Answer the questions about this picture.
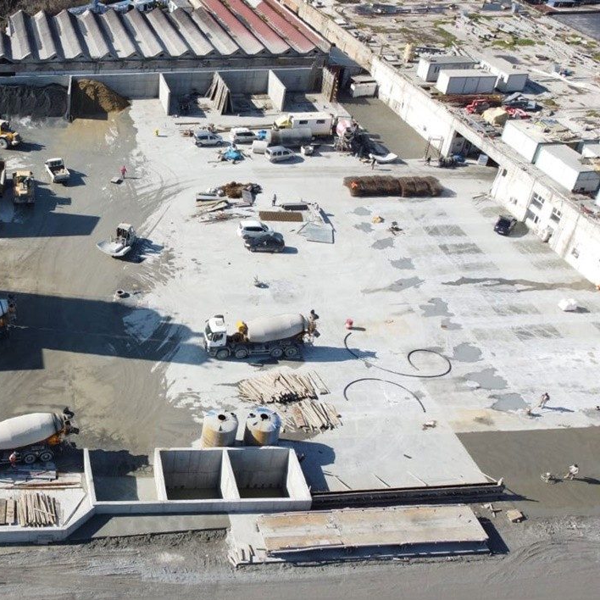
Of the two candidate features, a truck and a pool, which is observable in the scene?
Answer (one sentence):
Visible in the photo is a truck.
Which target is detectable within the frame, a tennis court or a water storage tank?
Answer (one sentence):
Looking from above, you can make out a water storage tank.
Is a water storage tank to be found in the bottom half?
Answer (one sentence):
Yes, a water storage tank is visible in the bottom half.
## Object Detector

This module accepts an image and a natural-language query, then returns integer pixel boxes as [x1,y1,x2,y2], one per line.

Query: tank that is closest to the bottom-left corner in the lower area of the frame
[202,403,241,439]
